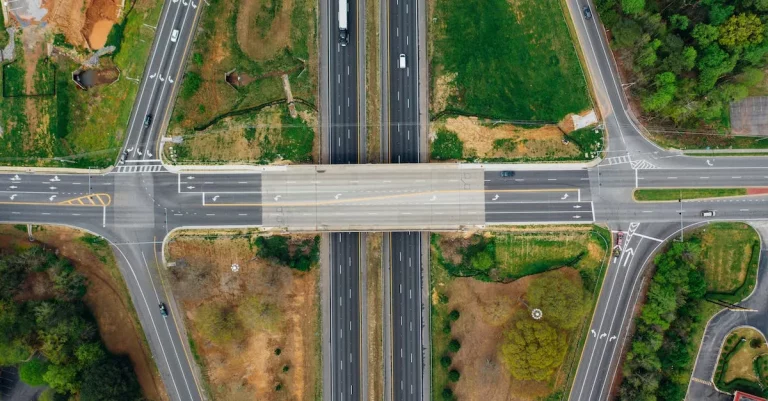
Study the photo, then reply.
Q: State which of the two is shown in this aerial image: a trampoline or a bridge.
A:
bridge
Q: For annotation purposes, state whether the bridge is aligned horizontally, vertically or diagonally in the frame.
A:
horizontally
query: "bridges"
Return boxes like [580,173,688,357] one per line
[262,164,489,232]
